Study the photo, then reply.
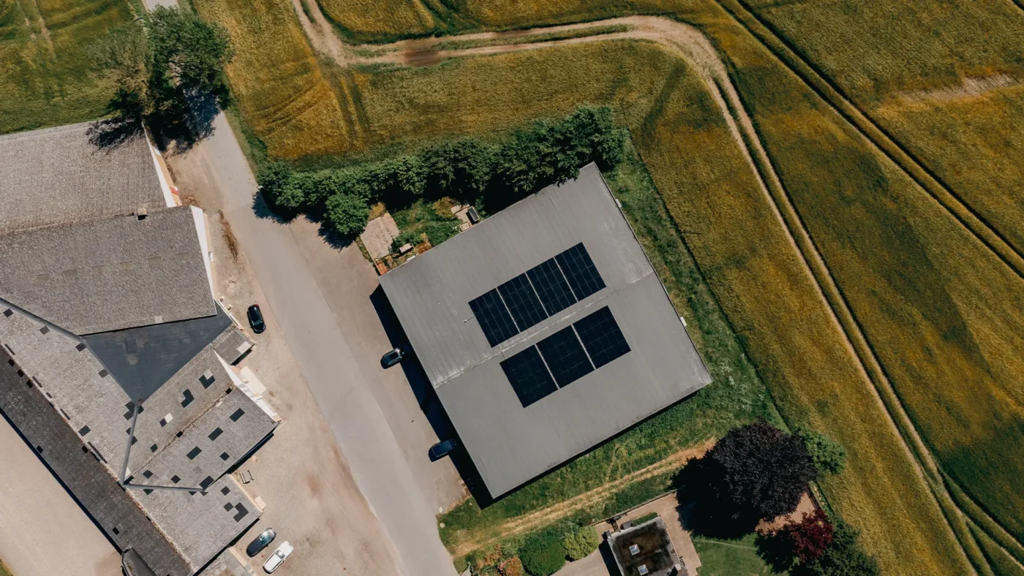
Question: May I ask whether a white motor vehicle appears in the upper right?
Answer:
No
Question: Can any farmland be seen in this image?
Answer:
Yes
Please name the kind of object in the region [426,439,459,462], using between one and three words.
car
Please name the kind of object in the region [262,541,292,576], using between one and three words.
car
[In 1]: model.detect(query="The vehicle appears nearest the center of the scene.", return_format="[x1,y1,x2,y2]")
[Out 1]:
[379,346,410,370]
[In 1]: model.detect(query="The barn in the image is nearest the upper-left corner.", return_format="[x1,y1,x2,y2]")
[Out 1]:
[0,118,182,234]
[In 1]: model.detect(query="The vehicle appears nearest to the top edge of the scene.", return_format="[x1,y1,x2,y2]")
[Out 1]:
[245,303,264,334]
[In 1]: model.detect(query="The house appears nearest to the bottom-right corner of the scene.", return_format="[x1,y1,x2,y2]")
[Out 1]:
[607,513,688,576]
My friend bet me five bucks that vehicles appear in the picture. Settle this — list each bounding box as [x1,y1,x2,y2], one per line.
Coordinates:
[379,346,410,370]
[245,303,264,334]
[243,528,277,560]
[426,439,459,462]
[262,541,292,576]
